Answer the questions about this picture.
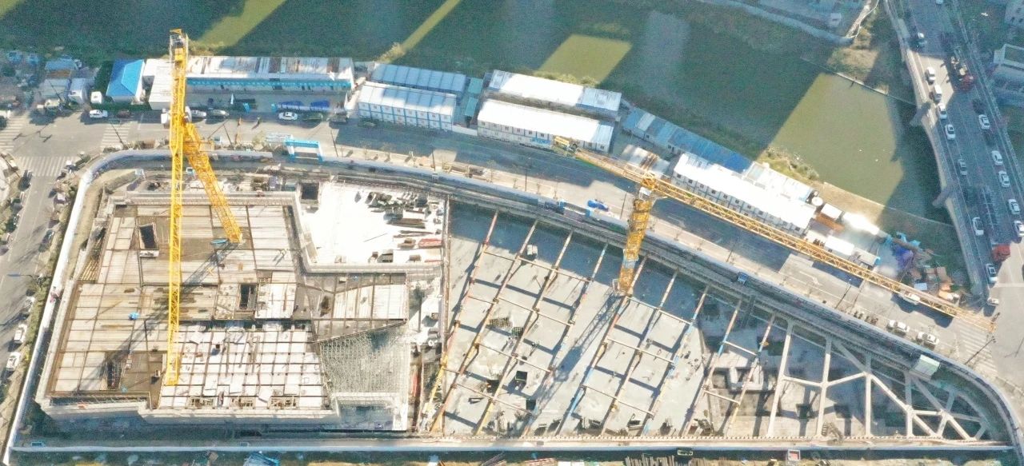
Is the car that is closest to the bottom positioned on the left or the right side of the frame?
left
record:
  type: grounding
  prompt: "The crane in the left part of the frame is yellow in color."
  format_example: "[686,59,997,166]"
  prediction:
[162,32,243,389]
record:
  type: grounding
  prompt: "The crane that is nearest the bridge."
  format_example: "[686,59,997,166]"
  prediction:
[554,135,997,332]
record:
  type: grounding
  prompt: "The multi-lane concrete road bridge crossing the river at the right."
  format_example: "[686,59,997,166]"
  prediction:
[885,0,1024,331]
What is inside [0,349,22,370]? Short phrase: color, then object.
white car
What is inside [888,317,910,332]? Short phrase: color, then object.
white car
